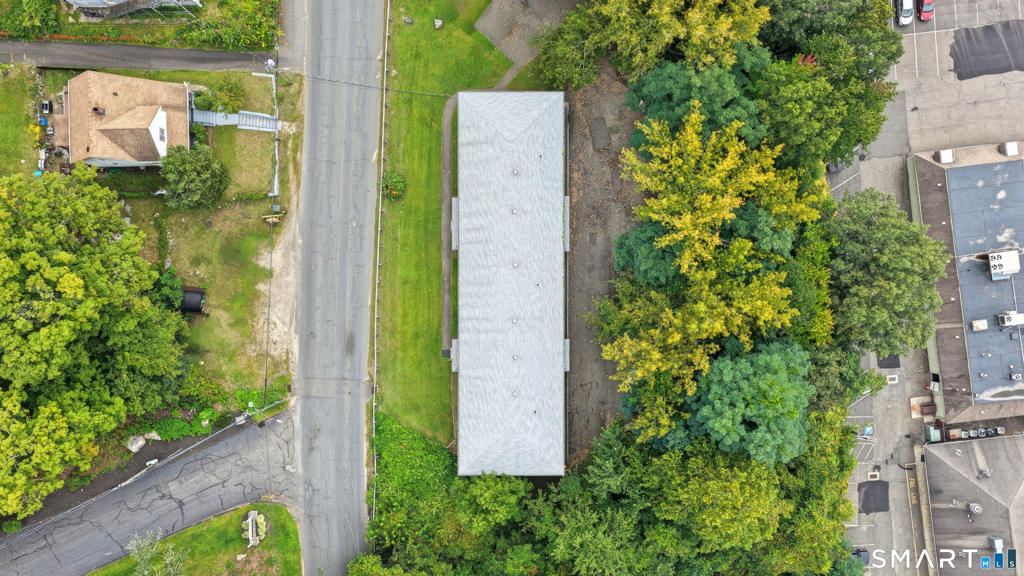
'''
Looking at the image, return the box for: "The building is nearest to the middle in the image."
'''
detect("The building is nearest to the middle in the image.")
[451,91,570,476]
